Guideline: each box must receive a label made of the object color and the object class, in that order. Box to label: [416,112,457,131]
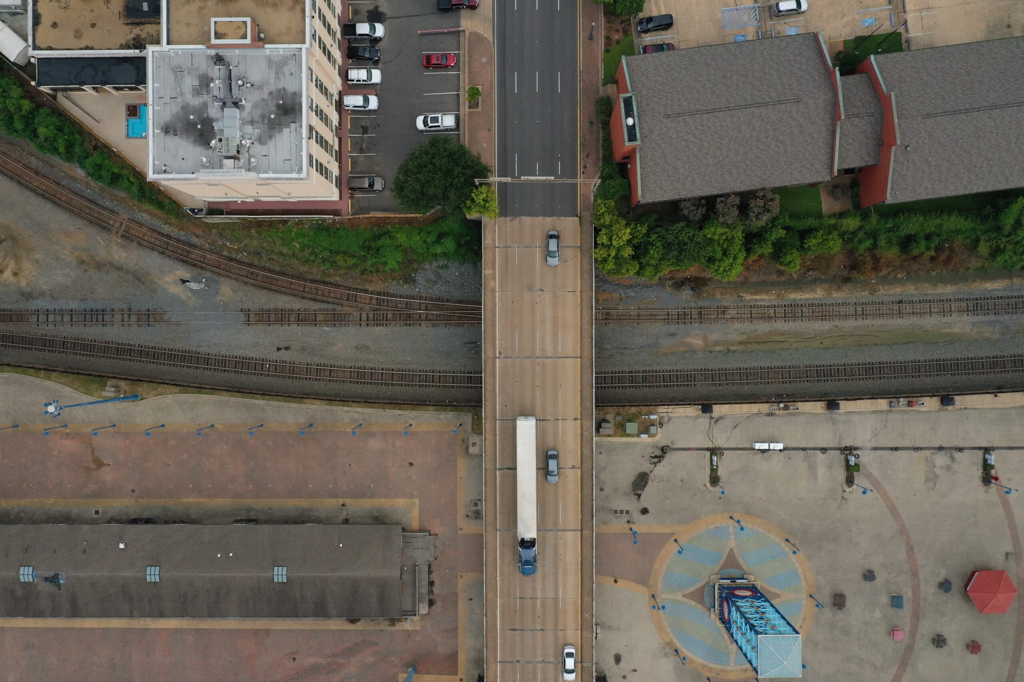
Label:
white vehicle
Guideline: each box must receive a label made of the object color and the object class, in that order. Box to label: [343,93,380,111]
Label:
white car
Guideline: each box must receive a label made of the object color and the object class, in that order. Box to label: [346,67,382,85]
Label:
white car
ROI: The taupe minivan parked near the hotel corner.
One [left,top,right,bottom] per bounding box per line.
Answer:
[349,175,385,192]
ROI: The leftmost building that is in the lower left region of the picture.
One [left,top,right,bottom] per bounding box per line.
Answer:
[0,521,403,619]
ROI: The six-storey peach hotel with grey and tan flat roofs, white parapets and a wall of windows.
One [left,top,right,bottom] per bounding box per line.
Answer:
[148,0,344,203]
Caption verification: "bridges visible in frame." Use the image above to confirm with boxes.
[471,213,595,682]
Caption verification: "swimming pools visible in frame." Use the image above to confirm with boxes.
[126,103,148,138]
